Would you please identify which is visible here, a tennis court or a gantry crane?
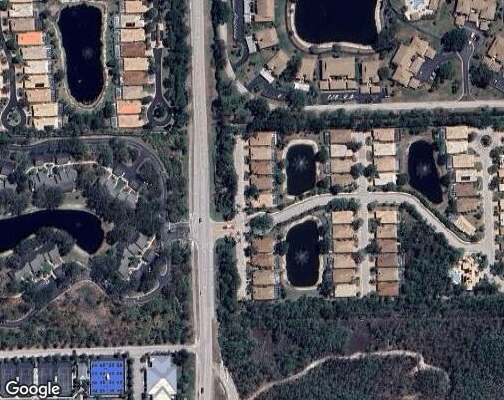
tennis court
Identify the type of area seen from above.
residential area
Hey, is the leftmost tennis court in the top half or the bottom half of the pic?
bottom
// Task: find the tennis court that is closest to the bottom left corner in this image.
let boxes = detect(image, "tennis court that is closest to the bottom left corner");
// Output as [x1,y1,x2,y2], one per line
[0,361,34,397]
